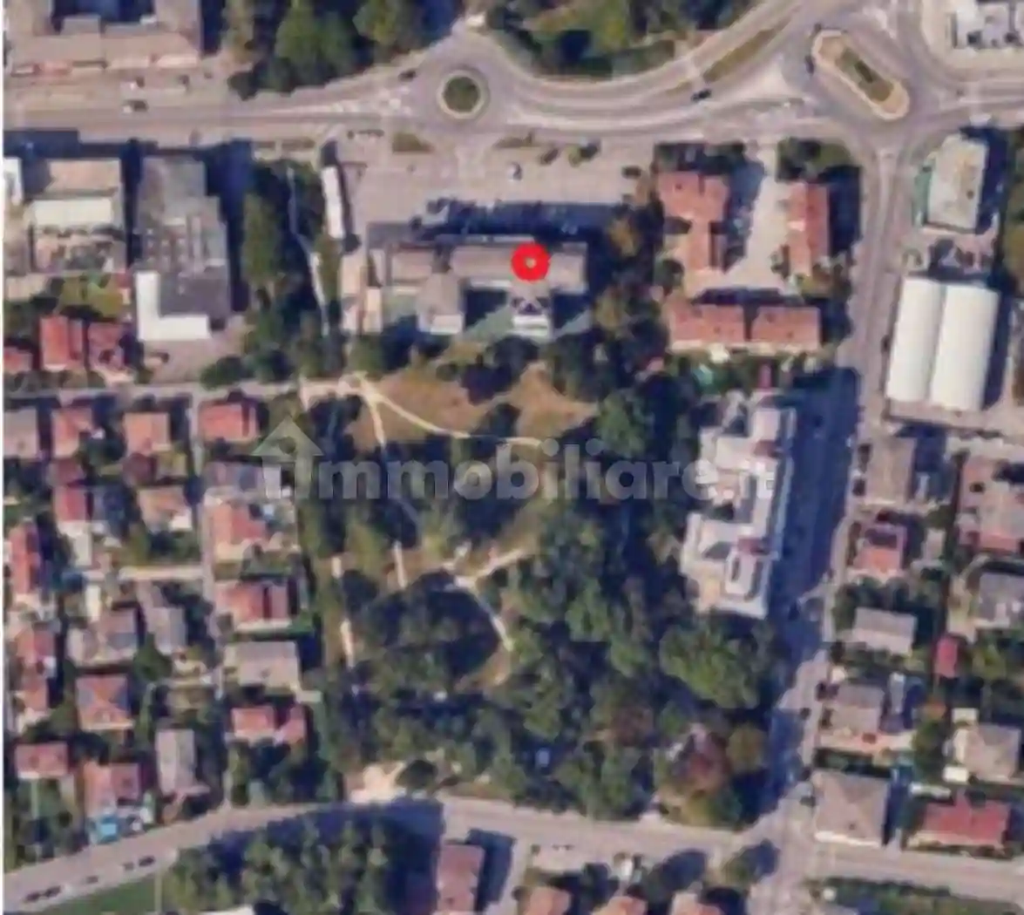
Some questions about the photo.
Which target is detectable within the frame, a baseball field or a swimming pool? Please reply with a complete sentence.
The one in the frame is a swimming pool.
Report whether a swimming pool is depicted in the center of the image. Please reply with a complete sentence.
No, looking in the center of the image, there is no swimming pool.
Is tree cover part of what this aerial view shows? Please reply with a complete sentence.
Yes, some tree cover is visible.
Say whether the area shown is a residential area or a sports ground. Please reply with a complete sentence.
What you see here is a residential area.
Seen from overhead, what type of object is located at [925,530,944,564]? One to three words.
shed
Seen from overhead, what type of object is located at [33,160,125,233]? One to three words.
building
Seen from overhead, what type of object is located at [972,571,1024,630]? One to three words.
house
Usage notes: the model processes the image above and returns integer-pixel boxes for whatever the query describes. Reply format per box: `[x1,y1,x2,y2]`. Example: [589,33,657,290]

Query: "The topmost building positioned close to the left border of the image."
[9,0,201,78]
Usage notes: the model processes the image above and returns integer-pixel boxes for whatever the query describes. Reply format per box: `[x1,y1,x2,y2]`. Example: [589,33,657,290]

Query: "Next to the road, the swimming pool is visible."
[93,816,119,840]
